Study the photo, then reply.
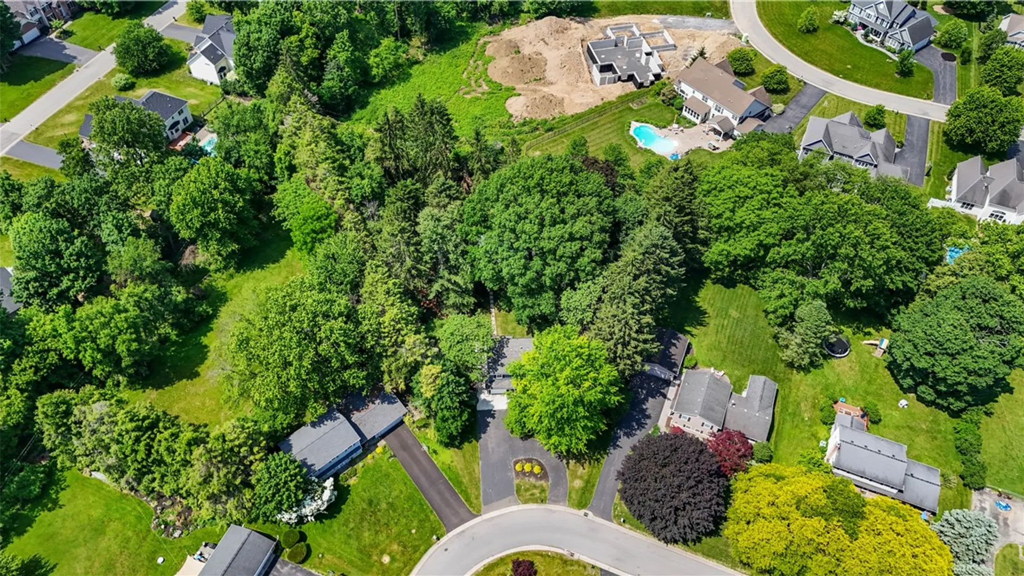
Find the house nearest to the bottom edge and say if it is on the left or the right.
left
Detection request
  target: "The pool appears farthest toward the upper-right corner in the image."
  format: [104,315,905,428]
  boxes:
[939,242,970,265]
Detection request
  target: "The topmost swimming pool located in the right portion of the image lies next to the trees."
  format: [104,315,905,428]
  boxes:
[633,123,676,152]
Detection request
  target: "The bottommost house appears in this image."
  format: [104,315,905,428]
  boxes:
[195,524,275,576]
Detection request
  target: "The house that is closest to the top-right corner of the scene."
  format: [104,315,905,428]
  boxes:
[995,13,1024,52]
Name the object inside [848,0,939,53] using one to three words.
house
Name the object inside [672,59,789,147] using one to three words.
house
